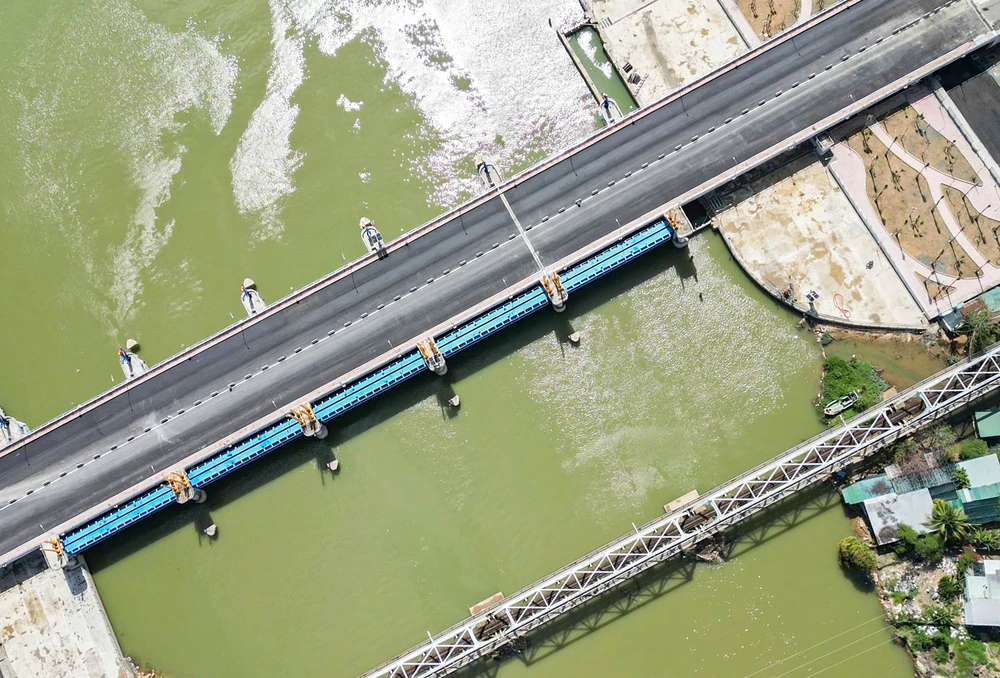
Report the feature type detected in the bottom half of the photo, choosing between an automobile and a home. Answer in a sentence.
The one visible in the bottom half of the photo is a home.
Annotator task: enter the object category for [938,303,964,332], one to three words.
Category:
shed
